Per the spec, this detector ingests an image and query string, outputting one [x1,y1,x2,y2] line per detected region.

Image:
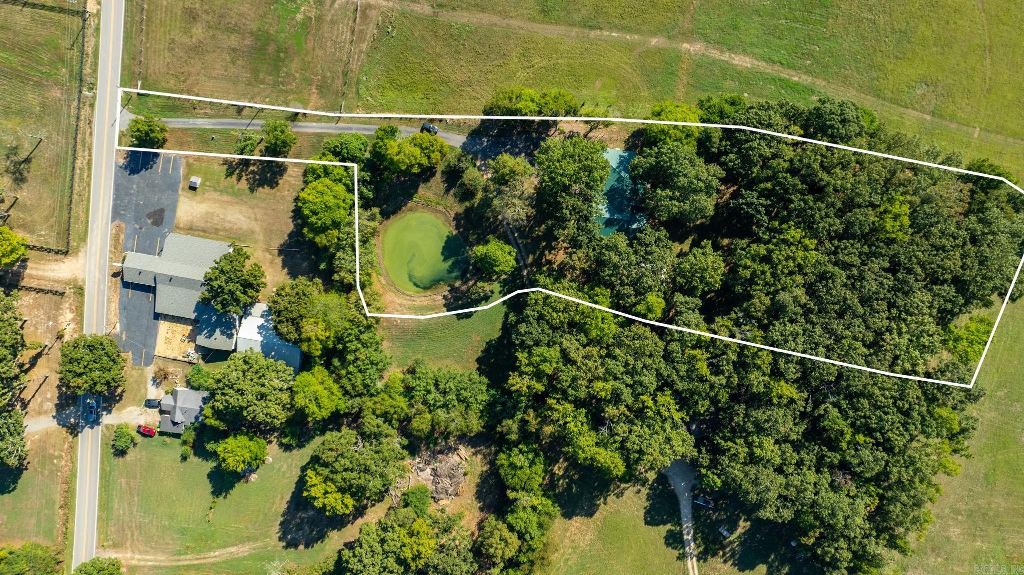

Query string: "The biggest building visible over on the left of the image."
[123,232,241,350]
